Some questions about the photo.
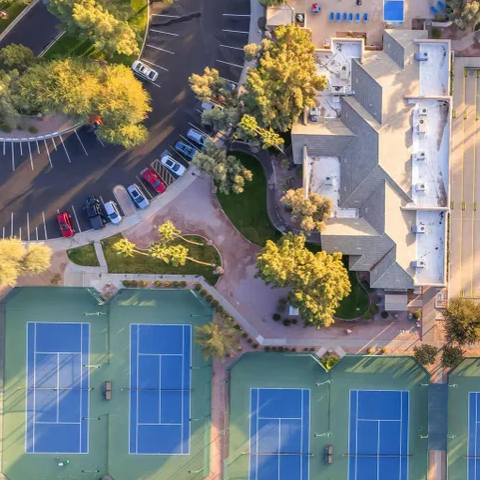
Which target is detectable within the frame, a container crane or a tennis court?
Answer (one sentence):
Of the two, only a tennis court appears.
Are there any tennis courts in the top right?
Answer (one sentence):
No, no tennis court is visible in the top right.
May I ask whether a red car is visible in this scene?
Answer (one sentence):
Yes, there's a red car down there.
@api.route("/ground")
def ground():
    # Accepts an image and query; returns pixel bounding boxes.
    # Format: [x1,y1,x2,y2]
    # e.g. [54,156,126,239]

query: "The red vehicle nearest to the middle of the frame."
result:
[141,170,166,194]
